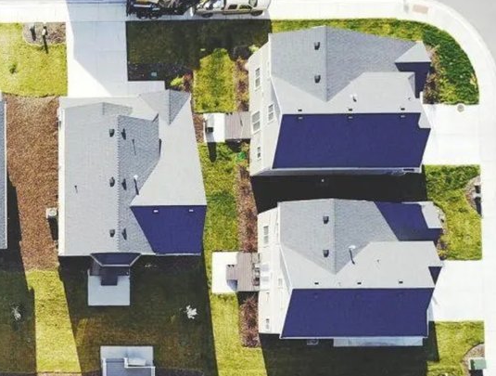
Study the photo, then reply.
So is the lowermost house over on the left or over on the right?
right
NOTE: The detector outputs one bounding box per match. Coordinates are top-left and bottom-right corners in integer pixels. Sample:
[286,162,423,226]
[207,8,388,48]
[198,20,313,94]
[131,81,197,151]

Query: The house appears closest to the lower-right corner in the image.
[256,198,437,339]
